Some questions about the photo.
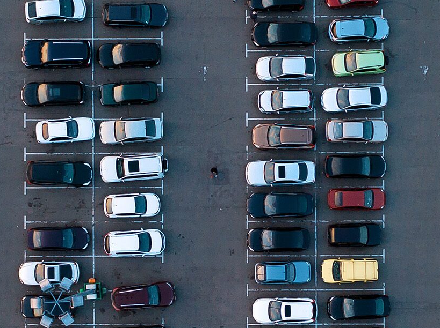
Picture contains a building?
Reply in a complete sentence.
No, no building is visible in the scene.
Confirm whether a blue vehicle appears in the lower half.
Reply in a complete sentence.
Yes, you'll find a blue vehicle in the lower half.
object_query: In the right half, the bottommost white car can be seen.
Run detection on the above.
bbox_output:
[252,296,318,326]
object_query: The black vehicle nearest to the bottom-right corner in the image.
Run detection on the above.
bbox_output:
[327,293,391,322]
